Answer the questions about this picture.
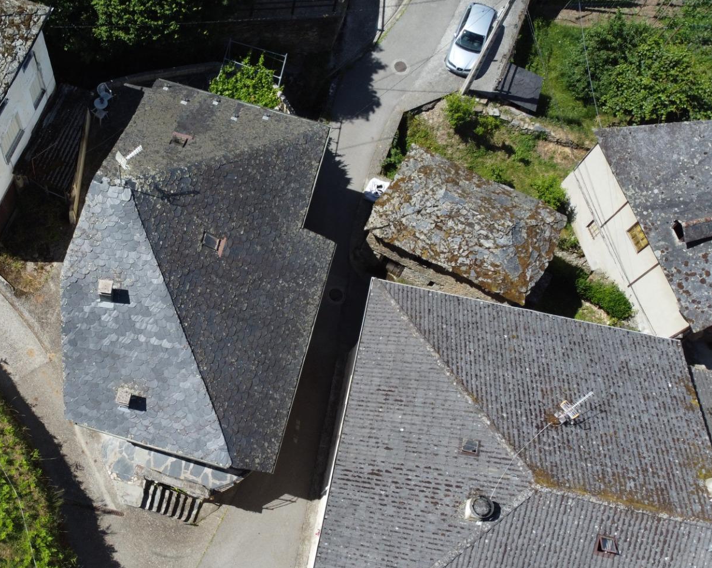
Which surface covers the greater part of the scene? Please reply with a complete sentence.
Most of the picture is covered by buildings.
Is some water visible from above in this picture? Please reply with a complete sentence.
No, the picture contains no water.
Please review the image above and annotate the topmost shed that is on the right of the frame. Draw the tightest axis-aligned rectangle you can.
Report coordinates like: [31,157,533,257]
[493,63,543,110]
